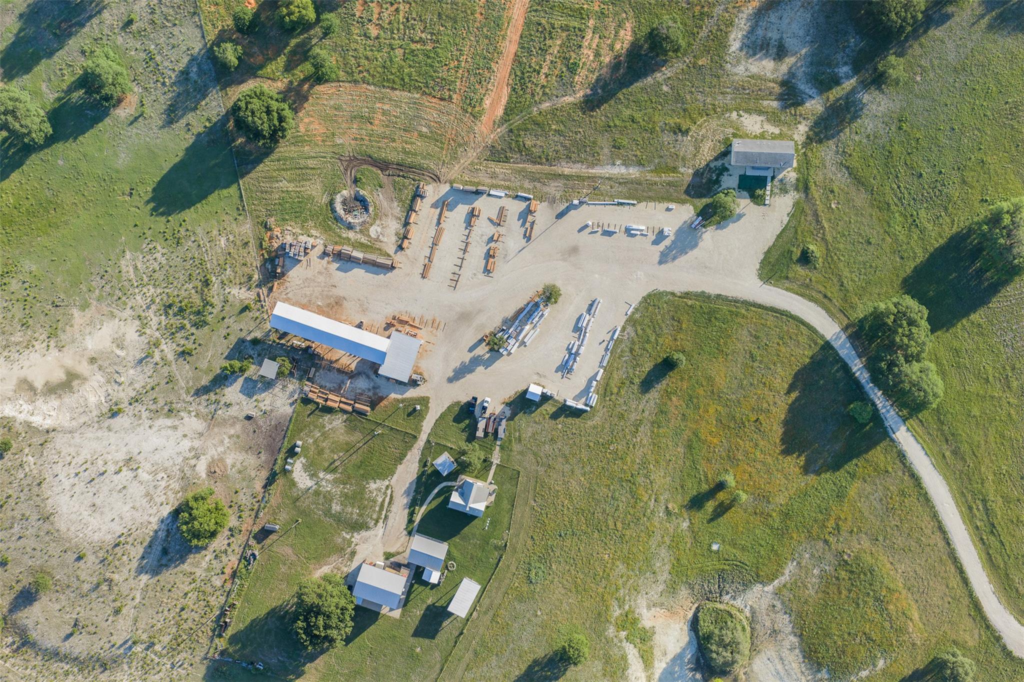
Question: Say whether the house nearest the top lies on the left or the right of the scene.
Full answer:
It is on the right.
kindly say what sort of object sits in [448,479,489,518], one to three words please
house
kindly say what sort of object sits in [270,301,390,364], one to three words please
barn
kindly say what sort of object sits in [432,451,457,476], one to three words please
building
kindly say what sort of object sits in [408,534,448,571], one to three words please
building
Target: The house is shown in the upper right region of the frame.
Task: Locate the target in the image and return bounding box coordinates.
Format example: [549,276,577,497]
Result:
[729,139,797,176]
